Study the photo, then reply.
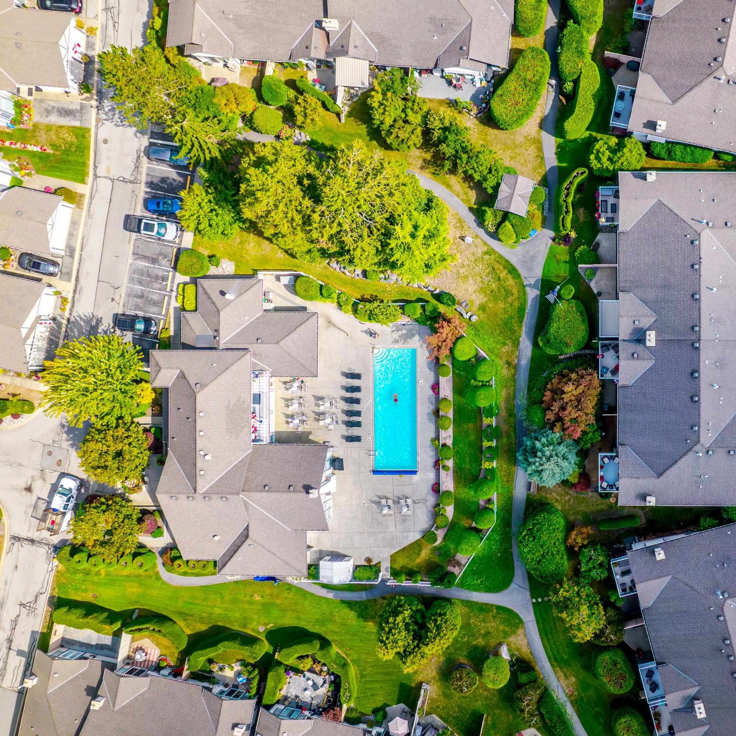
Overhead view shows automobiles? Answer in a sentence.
Yes, the image includes an automobile.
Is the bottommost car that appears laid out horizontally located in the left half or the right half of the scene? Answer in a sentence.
The bottommost car that appears laid out horizontally sits on the left side.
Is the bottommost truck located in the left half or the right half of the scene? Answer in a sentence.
It is on the left.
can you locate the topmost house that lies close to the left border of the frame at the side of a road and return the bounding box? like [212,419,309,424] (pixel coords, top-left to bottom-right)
[0,0,86,91]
